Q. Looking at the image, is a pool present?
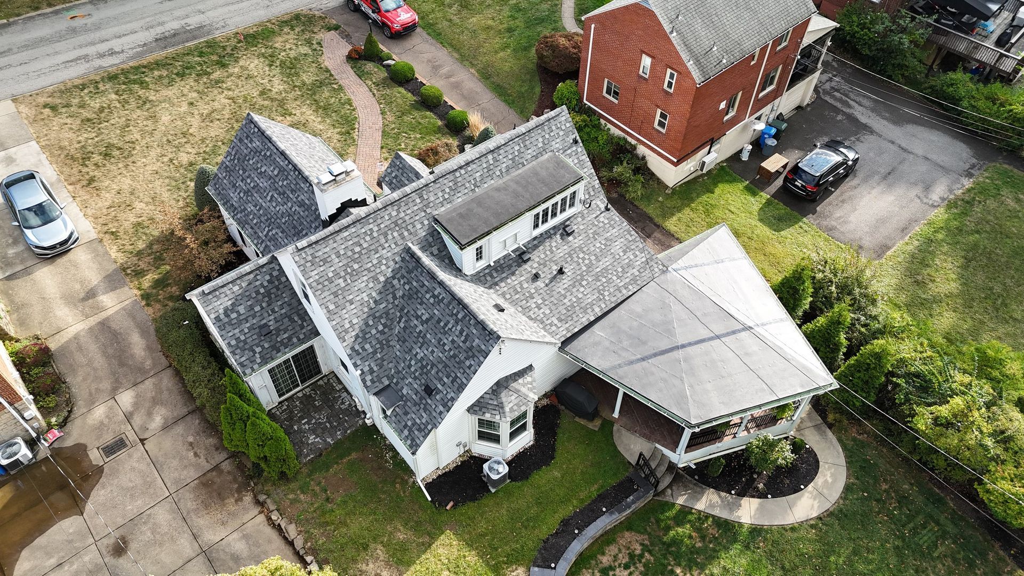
No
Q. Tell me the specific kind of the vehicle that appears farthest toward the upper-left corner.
automobile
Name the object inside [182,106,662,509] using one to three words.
house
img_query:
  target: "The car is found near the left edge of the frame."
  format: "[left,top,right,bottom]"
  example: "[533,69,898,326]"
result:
[2,173,75,253]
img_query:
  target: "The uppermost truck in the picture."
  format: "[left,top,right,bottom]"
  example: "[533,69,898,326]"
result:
[343,0,415,40]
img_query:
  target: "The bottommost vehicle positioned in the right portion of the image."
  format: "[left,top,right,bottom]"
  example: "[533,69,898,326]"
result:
[782,138,862,201]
